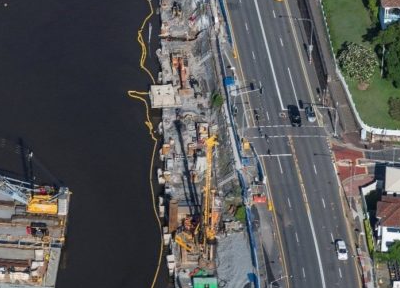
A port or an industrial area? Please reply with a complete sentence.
What you see here is a port.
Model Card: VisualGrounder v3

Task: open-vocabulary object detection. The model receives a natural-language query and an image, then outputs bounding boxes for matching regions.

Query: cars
[334,242,348,260]
[288,108,302,127]
[306,108,317,122]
